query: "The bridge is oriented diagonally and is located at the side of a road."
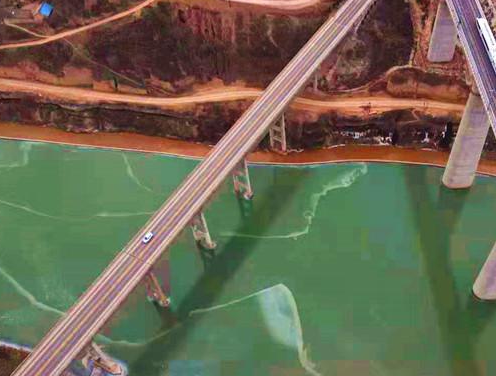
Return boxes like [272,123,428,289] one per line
[11,0,375,376]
